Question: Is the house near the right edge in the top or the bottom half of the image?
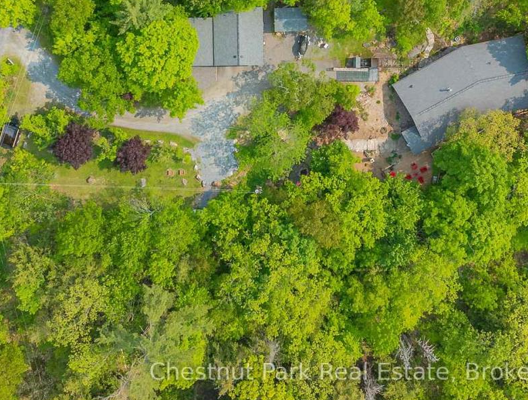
top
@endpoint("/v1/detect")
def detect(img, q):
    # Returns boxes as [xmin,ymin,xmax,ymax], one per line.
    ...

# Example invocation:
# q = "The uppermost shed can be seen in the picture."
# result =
[275,7,307,32]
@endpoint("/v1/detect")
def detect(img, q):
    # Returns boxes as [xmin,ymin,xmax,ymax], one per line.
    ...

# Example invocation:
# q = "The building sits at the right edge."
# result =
[393,34,528,154]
